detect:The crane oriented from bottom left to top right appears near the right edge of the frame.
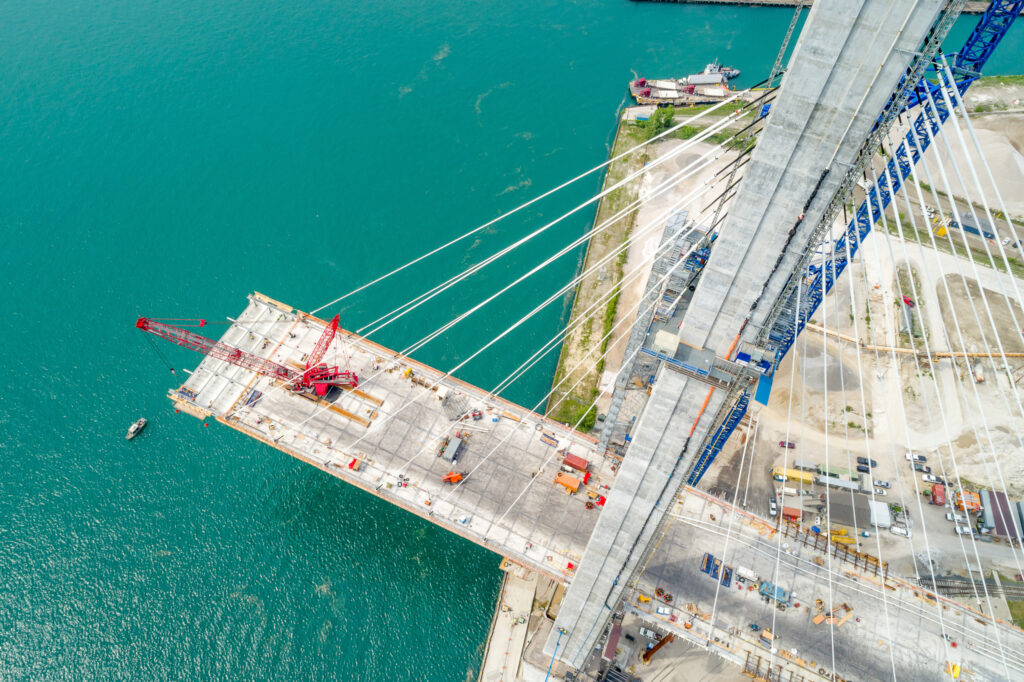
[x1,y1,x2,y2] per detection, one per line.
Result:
[689,0,1024,486]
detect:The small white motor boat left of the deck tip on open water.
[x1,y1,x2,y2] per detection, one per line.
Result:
[129,418,148,440]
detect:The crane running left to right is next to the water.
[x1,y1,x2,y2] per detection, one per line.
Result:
[133,316,351,408]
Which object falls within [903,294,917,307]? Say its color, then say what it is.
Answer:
red vehicle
